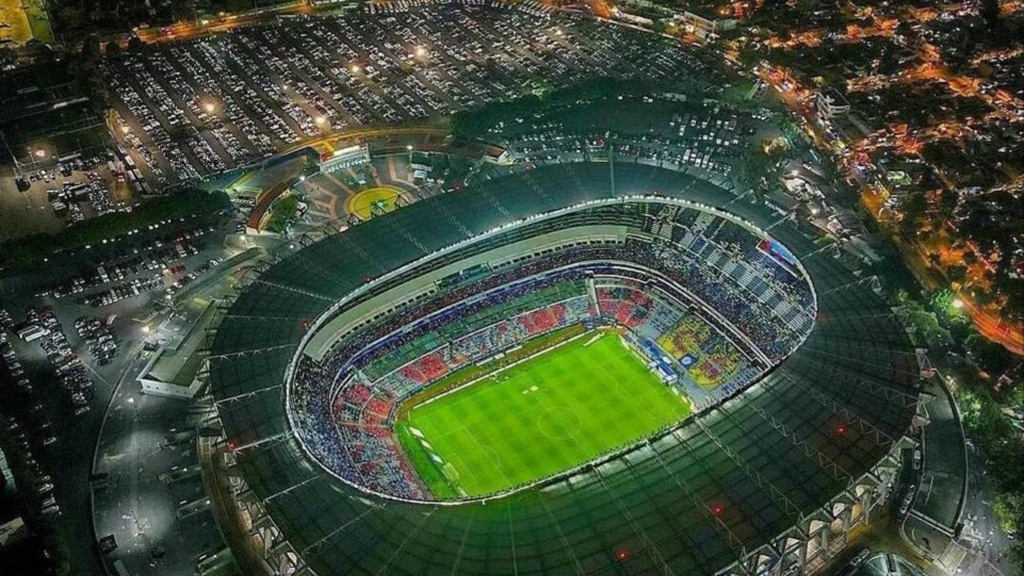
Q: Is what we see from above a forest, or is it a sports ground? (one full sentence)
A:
What you see here is a sports ground.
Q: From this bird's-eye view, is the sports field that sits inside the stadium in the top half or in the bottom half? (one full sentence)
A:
Seen from above, the sports field that sits inside the stadium lies in the bottom half of the view.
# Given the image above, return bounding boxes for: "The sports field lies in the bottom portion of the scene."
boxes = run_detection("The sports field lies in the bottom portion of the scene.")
[406,329,699,498]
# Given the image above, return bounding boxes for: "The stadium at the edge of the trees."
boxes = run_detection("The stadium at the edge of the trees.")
[203,153,928,576]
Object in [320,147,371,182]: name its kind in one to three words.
building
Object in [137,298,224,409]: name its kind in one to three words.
building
